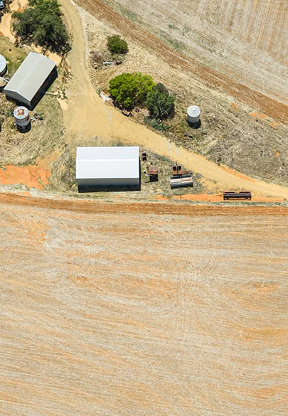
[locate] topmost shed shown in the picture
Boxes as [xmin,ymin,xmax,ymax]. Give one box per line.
[2,51,57,106]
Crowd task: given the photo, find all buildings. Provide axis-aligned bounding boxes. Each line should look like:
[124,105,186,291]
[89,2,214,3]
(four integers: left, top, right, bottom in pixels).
[76,146,139,187]
[2,51,57,106]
